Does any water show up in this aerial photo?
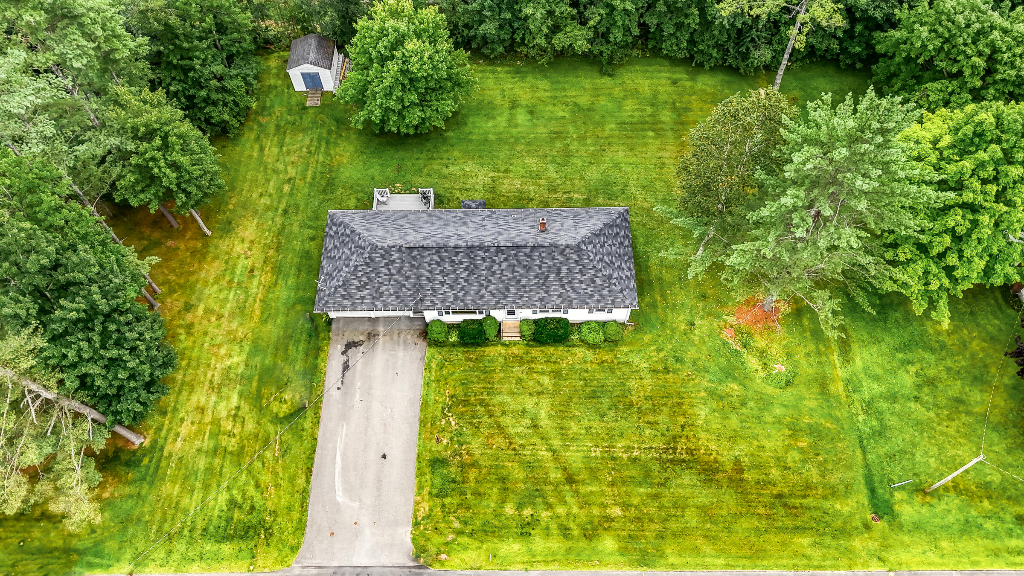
No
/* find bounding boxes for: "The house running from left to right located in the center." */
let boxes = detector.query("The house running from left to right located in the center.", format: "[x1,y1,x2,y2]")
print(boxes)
[313,200,640,323]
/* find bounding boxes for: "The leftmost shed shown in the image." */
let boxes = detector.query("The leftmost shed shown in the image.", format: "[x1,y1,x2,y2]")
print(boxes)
[287,31,339,90]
